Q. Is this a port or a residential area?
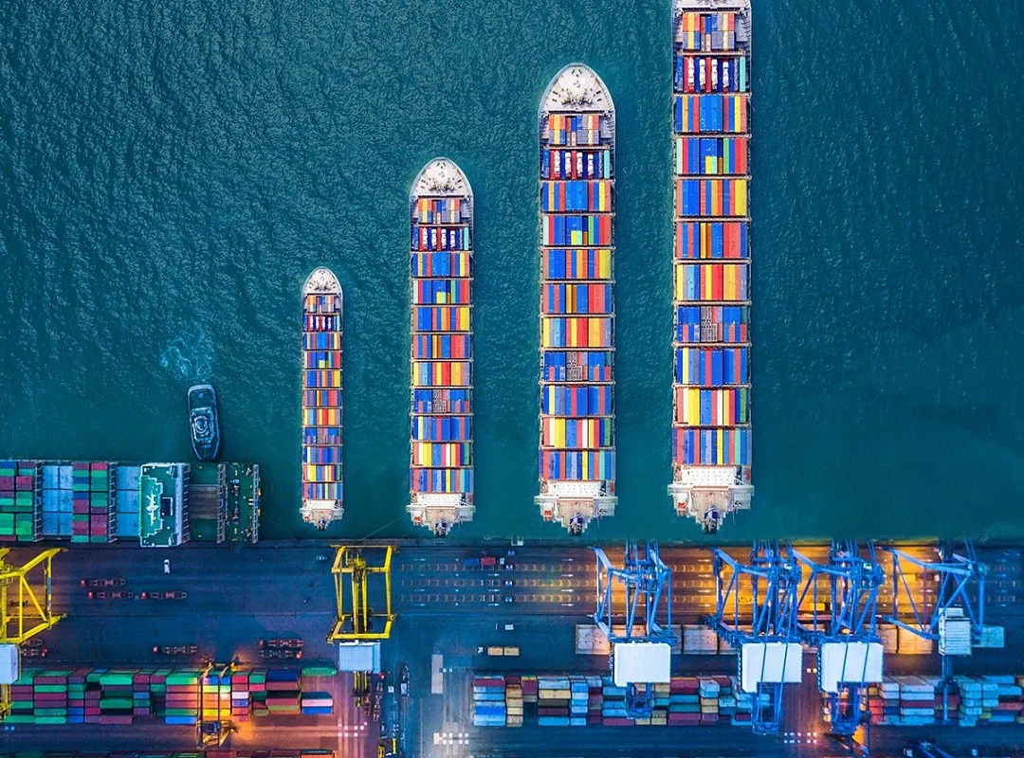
port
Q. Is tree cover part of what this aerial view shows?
No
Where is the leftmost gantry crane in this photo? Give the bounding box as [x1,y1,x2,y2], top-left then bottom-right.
[0,545,70,732]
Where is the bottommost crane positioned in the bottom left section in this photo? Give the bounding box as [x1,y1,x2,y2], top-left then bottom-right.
[198,665,249,756]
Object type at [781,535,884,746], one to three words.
container crane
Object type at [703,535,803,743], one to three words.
container crane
